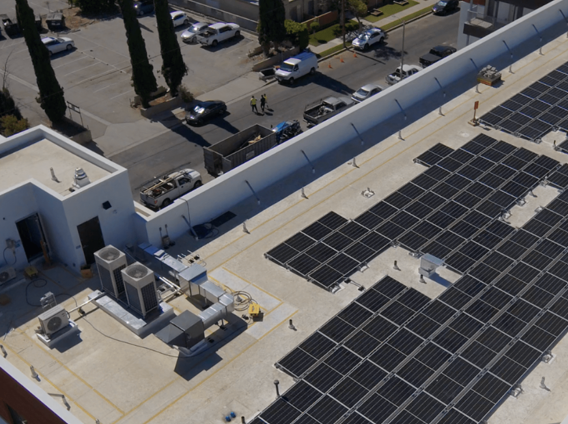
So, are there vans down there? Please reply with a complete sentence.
Yes, you can see a van in this photo.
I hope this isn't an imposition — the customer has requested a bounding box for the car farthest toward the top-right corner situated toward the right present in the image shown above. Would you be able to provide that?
[432,0,458,14]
